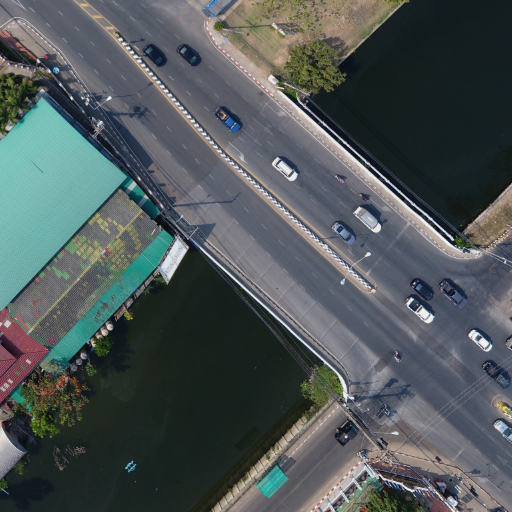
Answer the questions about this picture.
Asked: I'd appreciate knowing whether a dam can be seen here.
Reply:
No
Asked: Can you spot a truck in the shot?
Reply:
Yes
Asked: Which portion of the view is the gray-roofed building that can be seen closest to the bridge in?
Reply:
left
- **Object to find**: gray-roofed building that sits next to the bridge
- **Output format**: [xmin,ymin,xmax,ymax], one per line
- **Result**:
[9,186,174,371]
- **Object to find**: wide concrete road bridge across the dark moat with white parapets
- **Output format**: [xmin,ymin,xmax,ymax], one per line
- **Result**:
[184,90,488,392]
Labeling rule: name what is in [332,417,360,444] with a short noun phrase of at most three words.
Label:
truck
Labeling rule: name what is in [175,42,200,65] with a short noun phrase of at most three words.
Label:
car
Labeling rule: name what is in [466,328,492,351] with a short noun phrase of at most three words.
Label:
car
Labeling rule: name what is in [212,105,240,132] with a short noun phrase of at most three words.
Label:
truck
